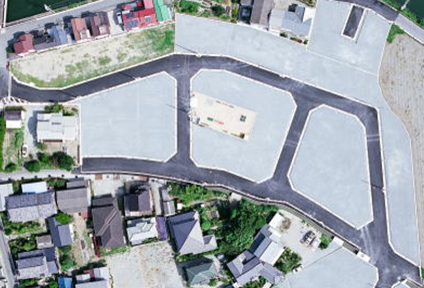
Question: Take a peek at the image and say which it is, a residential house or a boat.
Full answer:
Of the two, only a residential house appears.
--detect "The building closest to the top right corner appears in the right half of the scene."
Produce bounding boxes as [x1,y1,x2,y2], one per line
[270,7,312,36]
